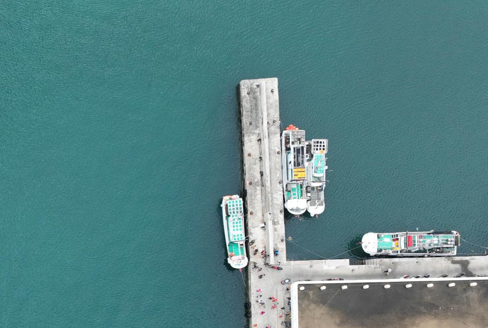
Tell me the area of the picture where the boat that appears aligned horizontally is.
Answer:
bottom right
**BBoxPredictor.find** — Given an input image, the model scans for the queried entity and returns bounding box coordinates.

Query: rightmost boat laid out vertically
[306,139,332,225]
